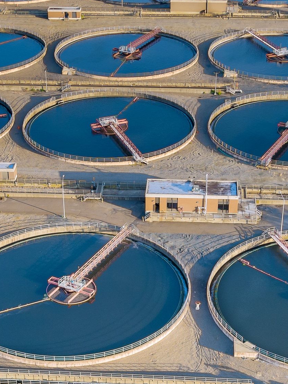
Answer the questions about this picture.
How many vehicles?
0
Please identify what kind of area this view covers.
industrial area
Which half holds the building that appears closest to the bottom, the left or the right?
right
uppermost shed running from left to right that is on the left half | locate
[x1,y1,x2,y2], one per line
[48,5,82,18]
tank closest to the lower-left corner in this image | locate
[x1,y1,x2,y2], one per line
[0,221,190,367]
